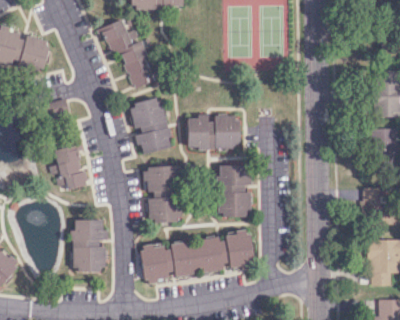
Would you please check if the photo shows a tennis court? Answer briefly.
Yes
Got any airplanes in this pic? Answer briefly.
No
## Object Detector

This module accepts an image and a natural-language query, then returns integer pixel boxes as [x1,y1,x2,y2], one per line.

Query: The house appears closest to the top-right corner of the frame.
[377,83,400,117]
